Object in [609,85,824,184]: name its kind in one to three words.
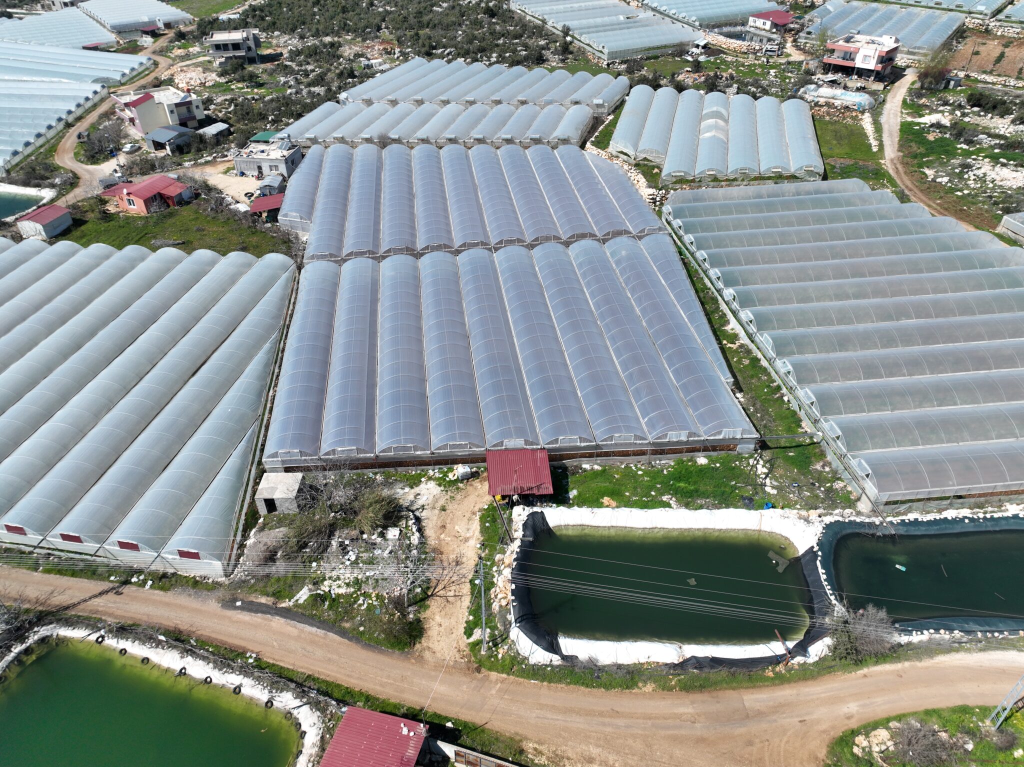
greenhouse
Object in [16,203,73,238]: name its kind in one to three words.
shed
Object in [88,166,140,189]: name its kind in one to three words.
truck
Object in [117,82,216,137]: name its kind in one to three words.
house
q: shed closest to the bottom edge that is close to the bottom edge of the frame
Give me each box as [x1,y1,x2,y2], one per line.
[319,706,431,767]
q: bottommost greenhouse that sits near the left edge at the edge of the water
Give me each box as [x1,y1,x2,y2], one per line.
[0,233,298,588]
